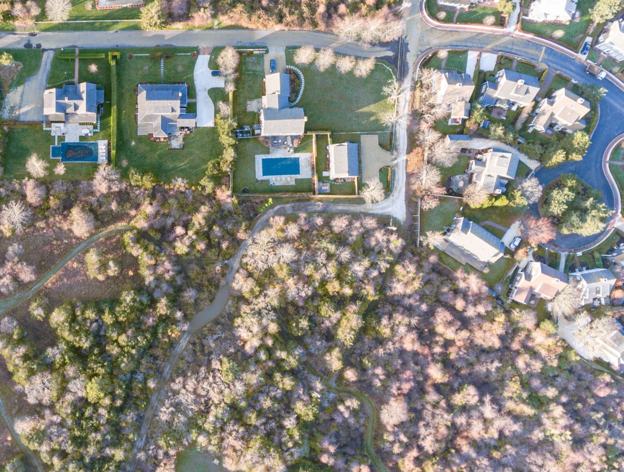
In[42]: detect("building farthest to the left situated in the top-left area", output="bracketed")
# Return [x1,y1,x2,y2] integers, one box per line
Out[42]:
[44,80,105,123]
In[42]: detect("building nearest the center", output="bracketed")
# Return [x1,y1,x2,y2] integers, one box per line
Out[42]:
[322,142,359,178]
